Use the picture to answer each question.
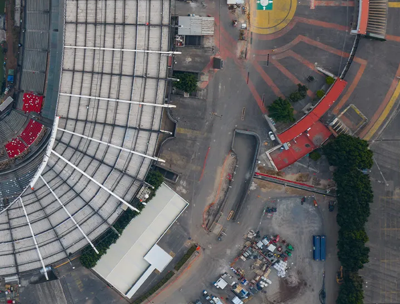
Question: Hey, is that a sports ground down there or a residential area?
sports ground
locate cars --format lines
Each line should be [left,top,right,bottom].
[268,131,276,141]
[233,19,238,28]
